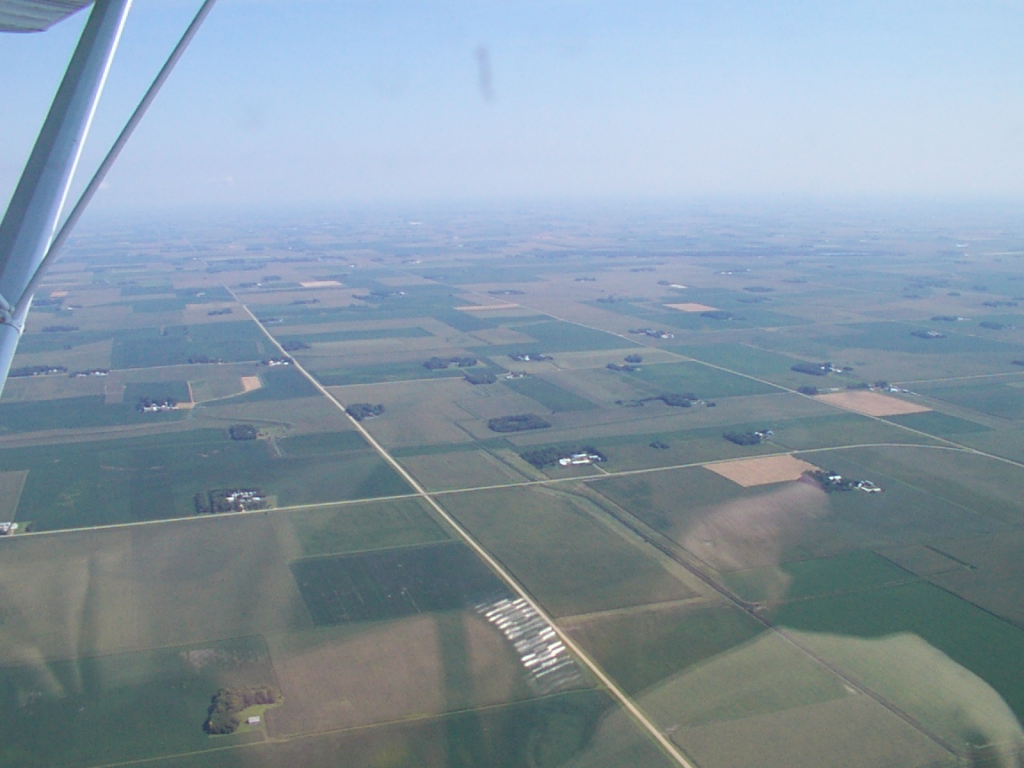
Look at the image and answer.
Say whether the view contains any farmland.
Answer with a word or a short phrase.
Yes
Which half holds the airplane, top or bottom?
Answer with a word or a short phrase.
top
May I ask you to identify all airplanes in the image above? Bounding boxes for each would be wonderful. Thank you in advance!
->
[0,0,213,365]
